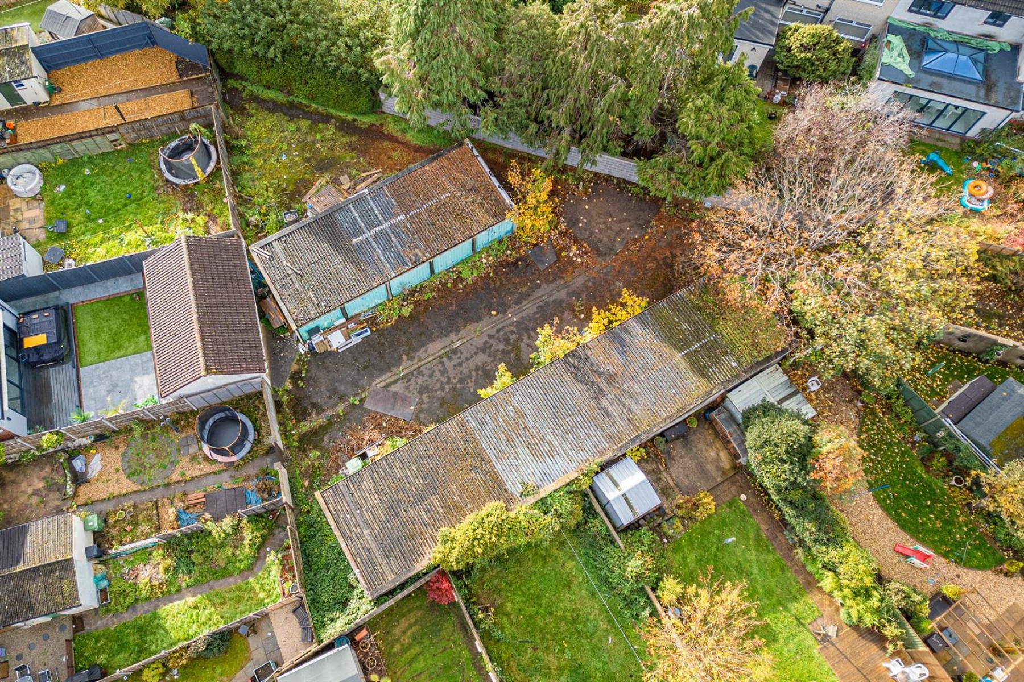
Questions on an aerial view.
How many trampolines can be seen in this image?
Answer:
two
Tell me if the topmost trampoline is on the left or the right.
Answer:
left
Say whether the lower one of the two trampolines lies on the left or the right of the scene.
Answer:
left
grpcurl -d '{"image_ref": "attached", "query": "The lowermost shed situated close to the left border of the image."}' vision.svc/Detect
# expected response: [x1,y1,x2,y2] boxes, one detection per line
[0,511,102,636]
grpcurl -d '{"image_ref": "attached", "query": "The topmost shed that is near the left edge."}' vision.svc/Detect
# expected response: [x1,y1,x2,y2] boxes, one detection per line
[37,0,103,46]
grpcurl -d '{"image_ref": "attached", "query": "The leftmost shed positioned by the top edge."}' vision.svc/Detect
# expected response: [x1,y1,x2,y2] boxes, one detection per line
[0,16,53,113]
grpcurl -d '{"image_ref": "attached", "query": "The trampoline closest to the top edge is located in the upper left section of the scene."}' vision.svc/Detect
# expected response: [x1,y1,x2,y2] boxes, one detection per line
[157,127,221,190]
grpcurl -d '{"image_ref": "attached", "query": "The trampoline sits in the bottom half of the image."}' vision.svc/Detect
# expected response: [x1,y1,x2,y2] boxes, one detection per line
[187,402,261,470]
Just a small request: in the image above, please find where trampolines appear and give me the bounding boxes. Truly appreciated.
[157,127,221,190]
[187,402,261,470]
